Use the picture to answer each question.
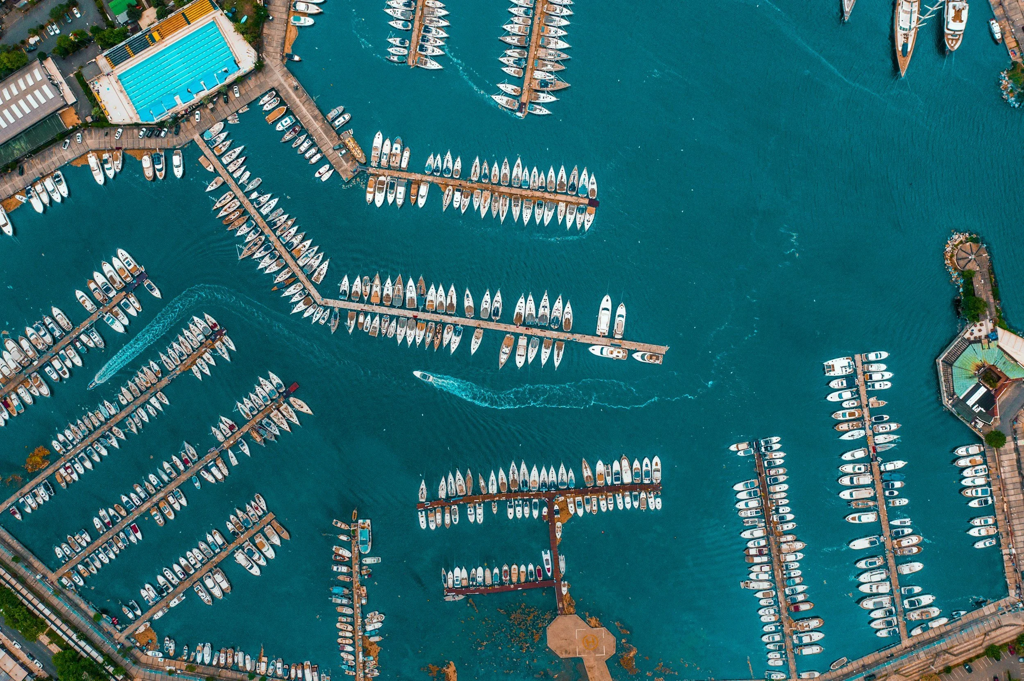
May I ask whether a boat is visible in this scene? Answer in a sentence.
Yes, a boat is visible in the scene.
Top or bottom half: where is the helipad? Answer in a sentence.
You can find the helipad in the bottom half.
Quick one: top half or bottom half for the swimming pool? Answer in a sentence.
It is in the top half that the swimming pool appears.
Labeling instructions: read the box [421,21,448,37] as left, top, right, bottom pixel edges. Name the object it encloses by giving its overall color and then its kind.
white boat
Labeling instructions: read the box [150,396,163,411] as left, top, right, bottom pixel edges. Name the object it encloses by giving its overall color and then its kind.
white boat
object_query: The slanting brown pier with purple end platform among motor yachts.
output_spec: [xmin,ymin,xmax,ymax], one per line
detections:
[0,271,149,397]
